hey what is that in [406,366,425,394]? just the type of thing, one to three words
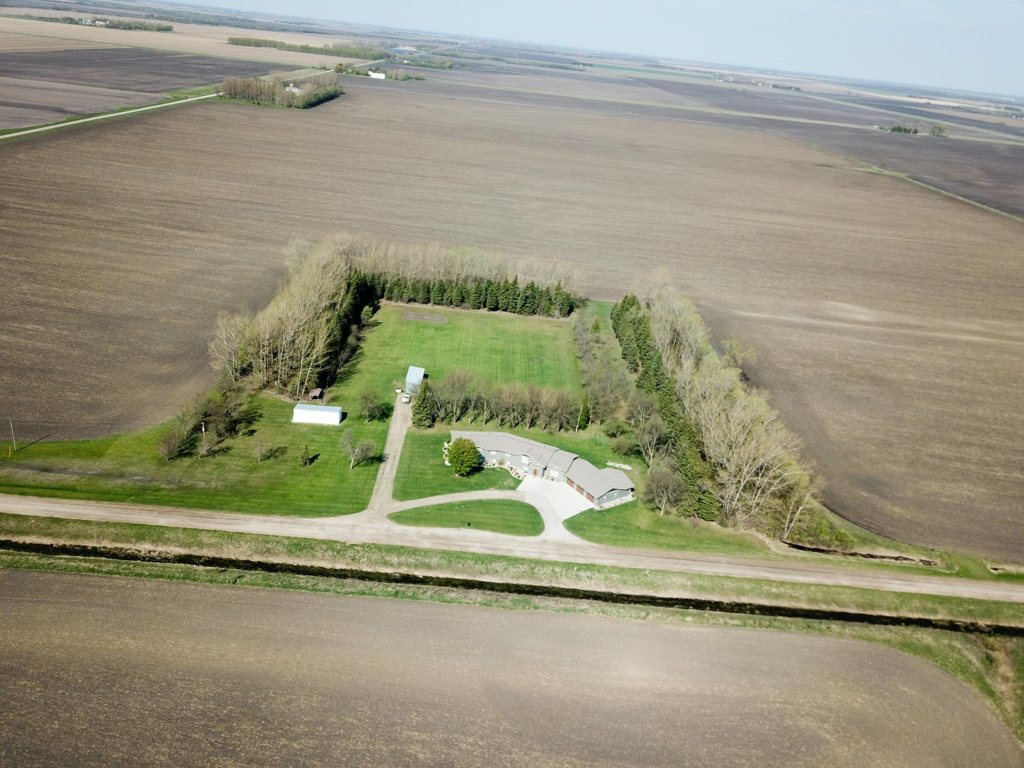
barn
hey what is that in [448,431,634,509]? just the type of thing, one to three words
house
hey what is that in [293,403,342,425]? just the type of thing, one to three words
shed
